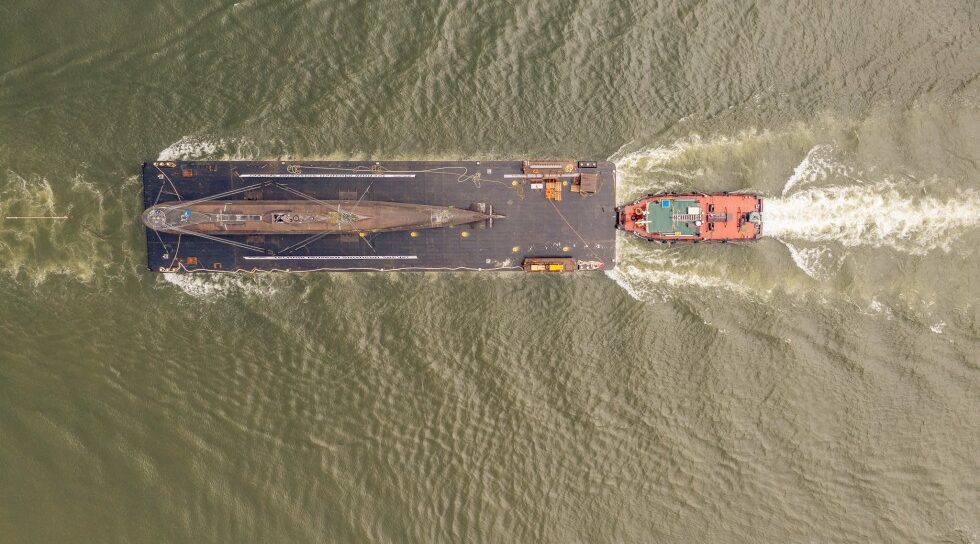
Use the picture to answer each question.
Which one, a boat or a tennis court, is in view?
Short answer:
boat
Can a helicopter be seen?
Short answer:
No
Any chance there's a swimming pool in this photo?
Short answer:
No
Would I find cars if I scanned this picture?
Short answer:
No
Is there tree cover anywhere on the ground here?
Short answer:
No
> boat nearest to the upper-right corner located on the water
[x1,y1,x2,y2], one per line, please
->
[614,192,763,243]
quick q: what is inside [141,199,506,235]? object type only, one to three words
ship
